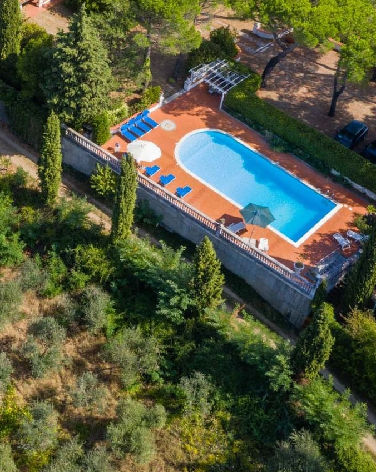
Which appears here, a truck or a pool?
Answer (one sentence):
Visible in the photo is a pool.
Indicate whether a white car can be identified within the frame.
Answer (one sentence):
No, the picture doesn't show any white car.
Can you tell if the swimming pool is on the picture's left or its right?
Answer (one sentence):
The swimming pool is on the right side of the image.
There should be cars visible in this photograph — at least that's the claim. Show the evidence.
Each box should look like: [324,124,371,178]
[360,139,376,164]
[333,120,370,150]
